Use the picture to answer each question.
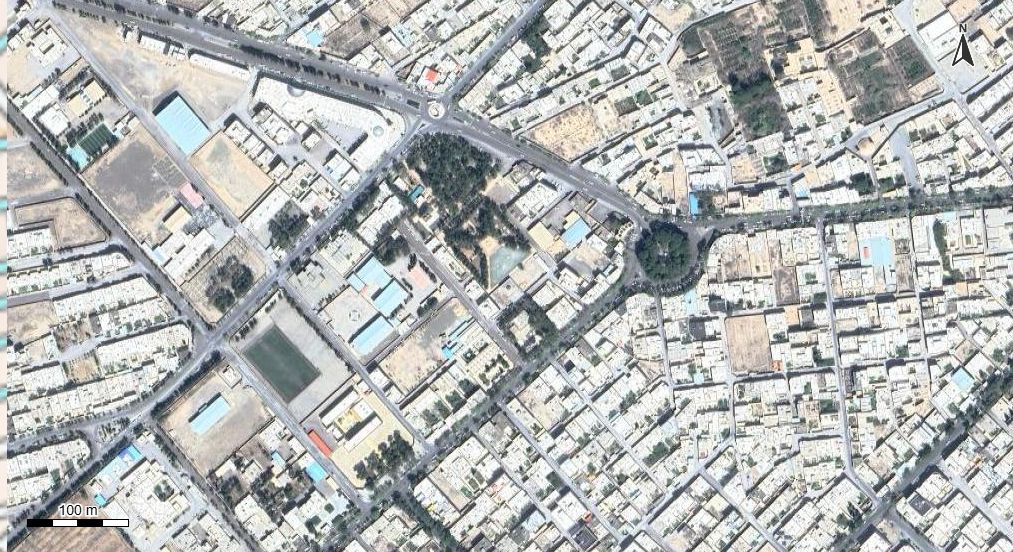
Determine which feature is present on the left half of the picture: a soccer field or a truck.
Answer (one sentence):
The one visible on the left half of the picture is a soccer field.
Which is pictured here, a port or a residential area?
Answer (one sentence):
What you see here is a residential area.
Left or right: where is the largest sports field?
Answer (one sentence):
You can find the largest sports field on the left side of the picture.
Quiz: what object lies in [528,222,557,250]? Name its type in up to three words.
building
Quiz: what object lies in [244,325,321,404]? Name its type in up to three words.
soccer field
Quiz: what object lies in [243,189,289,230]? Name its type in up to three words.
building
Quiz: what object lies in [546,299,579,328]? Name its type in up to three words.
house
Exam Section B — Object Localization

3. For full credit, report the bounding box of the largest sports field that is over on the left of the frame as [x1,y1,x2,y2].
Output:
[230,289,351,428]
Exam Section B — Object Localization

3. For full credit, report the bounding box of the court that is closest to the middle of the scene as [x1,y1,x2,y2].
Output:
[409,264,433,294]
